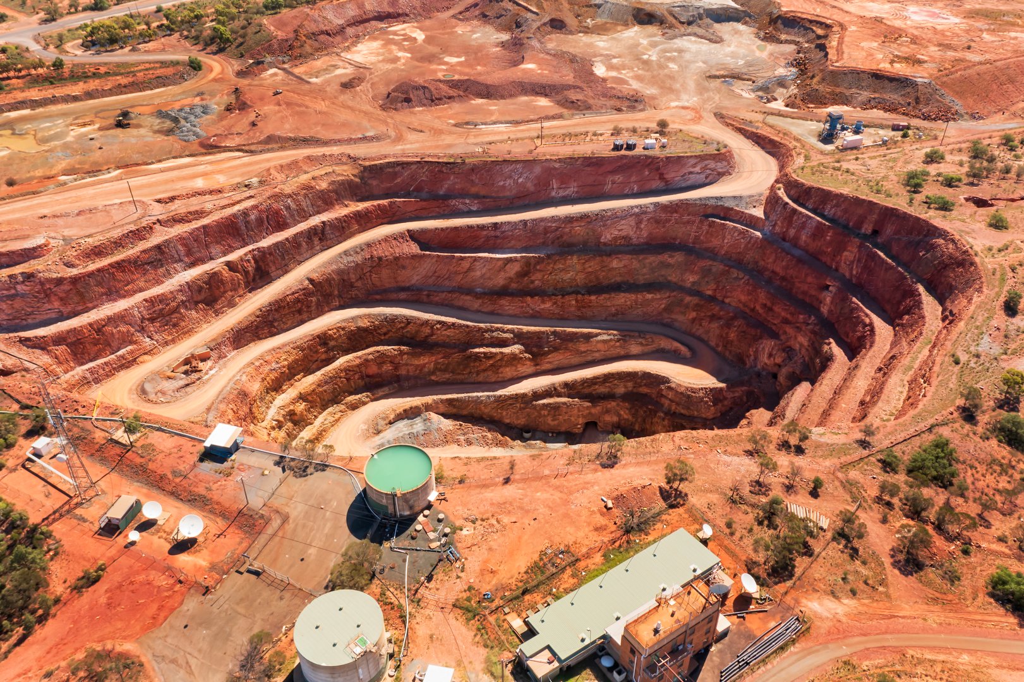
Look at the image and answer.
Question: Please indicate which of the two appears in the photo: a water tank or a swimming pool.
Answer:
water tank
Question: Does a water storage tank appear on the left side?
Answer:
Yes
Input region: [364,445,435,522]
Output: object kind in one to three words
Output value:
water tank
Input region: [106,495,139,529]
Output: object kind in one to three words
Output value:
shed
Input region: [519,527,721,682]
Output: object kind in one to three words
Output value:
building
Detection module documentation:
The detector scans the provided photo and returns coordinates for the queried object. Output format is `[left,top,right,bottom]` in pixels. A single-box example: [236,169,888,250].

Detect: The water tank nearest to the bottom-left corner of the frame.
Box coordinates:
[294,591,392,682]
